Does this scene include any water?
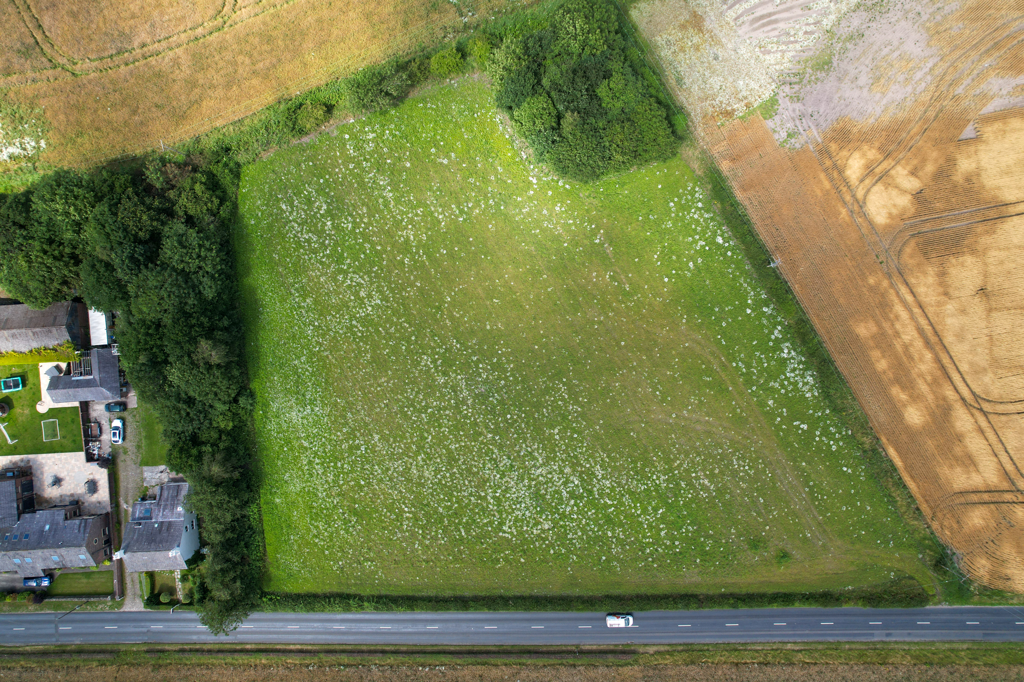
No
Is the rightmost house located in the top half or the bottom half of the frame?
bottom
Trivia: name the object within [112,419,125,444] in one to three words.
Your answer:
vehicle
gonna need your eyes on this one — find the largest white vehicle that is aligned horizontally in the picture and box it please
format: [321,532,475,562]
[606,614,634,628]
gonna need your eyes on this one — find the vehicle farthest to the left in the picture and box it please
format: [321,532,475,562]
[22,575,54,588]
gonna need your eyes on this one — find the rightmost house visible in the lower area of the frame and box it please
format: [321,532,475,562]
[115,482,199,572]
